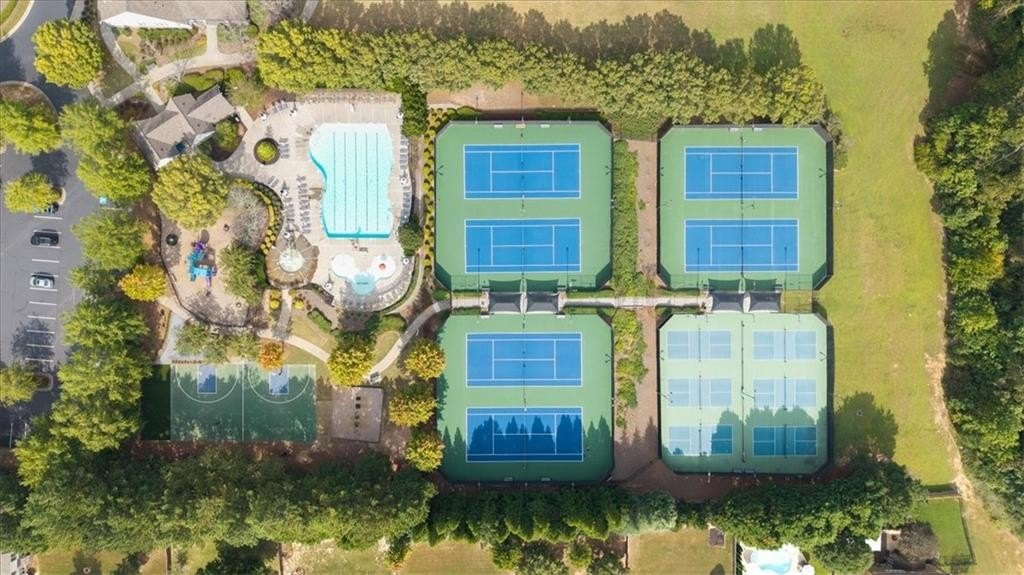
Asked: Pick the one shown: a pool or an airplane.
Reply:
pool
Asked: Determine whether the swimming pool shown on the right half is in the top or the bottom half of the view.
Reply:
bottom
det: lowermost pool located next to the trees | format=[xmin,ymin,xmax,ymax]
[751,547,794,575]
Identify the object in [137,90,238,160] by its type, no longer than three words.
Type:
building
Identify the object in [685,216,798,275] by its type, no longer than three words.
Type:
tennis court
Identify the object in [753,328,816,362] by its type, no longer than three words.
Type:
sports court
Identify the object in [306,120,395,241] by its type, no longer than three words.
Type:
swimming pool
